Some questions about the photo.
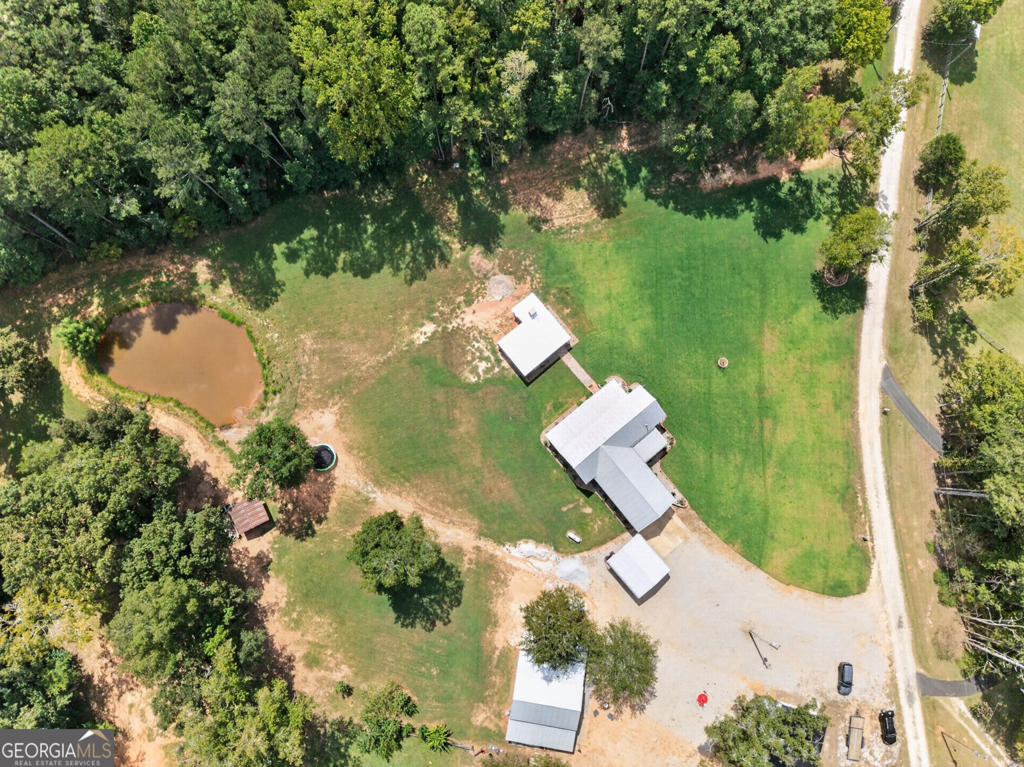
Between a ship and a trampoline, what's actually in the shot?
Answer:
trampoline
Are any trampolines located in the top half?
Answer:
No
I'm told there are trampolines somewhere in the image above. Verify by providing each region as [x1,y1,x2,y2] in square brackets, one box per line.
[311,444,338,471]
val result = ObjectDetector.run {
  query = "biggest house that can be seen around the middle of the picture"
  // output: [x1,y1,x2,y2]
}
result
[545,379,676,532]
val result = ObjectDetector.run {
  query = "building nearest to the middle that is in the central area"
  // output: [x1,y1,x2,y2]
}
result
[497,293,570,376]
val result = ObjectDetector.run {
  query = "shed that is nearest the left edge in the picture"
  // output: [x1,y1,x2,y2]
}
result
[230,499,272,534]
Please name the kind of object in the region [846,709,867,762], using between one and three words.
trailer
